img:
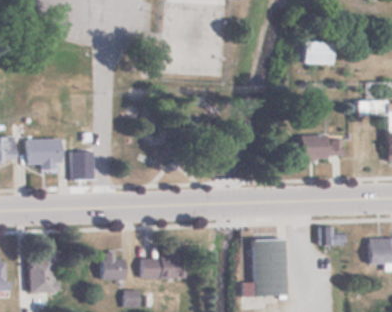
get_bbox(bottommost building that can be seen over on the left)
[123,290,142,309]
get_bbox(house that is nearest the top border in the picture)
[304,42,336,66]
